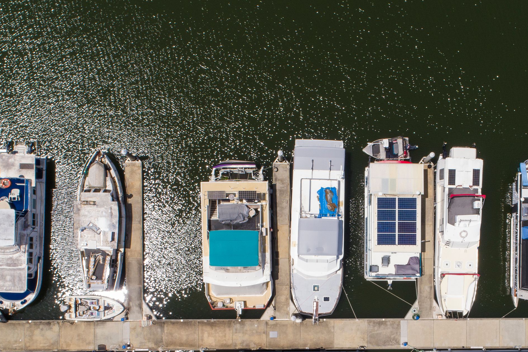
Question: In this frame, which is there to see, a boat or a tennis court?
boat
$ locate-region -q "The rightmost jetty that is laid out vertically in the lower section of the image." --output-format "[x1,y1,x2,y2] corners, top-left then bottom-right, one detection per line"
[403,158,446,318]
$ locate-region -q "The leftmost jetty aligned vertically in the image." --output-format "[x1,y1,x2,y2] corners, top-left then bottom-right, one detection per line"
[113,155,157,320]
